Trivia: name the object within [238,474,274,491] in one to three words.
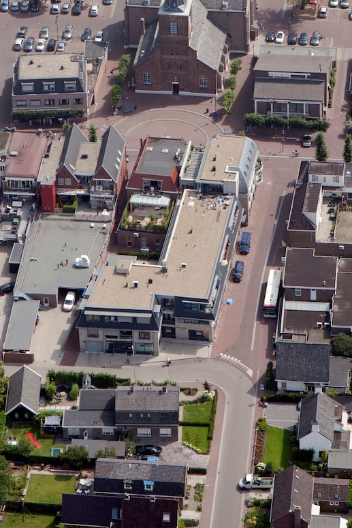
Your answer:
vehicle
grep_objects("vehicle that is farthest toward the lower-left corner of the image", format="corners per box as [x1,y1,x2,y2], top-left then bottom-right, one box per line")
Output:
[135,444,162,457]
